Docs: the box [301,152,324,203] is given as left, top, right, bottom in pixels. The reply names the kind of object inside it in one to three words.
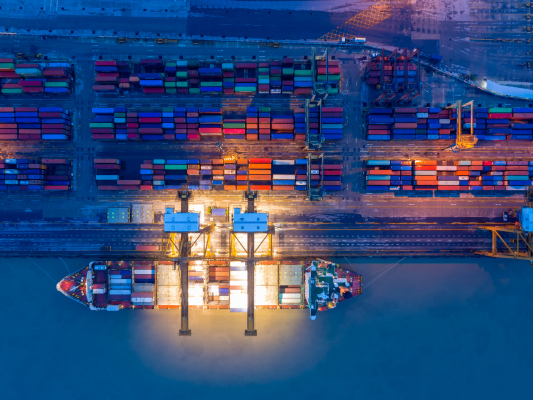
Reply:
container crane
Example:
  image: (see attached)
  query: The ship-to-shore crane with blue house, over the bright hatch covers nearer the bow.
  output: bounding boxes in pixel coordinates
[160,190,221,338]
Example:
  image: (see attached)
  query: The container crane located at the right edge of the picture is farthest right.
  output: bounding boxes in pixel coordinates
[468,190,533,269]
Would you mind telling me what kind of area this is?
port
